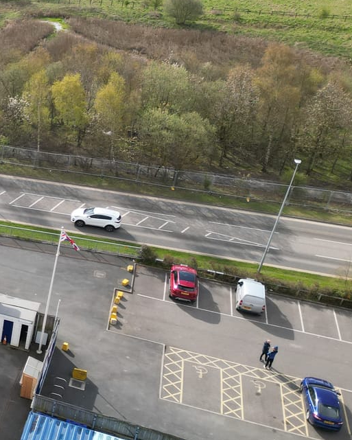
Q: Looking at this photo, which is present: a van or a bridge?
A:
van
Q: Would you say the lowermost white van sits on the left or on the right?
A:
right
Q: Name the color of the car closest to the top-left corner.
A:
white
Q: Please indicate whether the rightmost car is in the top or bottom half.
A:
bottom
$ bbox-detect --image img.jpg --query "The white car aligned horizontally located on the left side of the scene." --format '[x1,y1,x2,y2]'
[76,206,127,230]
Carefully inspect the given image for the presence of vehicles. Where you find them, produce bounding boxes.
[237,279,273,318]
[174,269,203,305]
[305,379,352,437]
[76,206,127,230]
